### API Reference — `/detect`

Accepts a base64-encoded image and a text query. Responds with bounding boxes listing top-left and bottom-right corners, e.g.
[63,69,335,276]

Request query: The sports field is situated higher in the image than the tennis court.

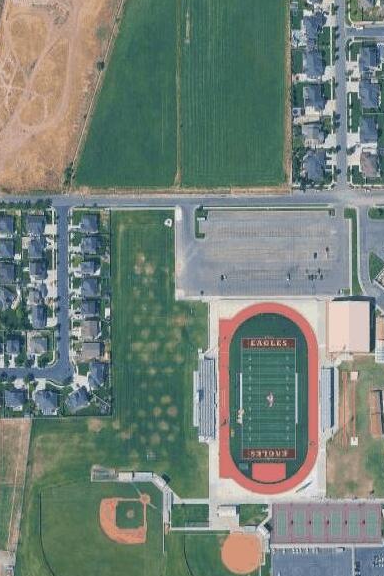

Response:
[230,311,308,485]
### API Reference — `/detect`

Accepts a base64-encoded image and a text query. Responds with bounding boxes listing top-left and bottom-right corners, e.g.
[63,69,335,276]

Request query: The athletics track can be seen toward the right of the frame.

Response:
[219,303,318,495]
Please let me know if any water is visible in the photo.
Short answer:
No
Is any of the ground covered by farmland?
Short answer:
Yes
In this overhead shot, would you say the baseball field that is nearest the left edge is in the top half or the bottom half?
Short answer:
bottom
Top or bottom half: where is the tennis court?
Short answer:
bottom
